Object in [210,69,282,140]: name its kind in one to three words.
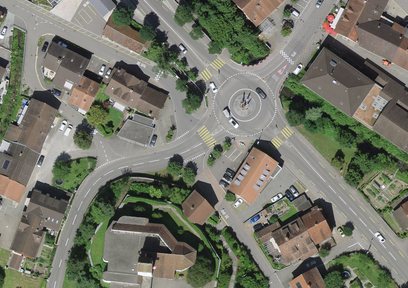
roundabout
